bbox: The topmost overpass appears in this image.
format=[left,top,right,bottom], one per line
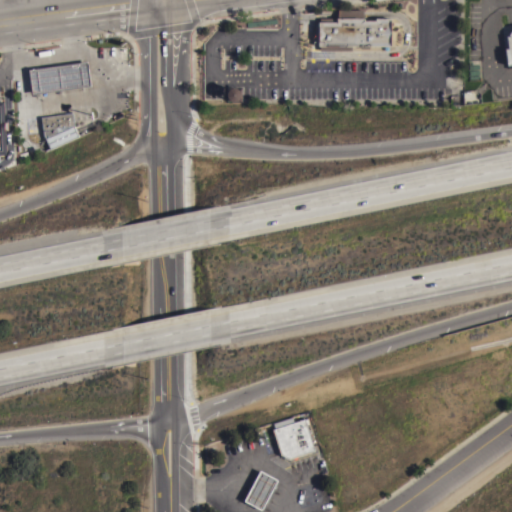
[102,202,237,266]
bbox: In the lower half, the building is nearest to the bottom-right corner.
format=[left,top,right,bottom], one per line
[274,413,316,461]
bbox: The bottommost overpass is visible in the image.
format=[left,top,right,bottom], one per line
[104,306,238,368]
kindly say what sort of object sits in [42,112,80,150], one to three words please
building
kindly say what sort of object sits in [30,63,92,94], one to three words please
building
